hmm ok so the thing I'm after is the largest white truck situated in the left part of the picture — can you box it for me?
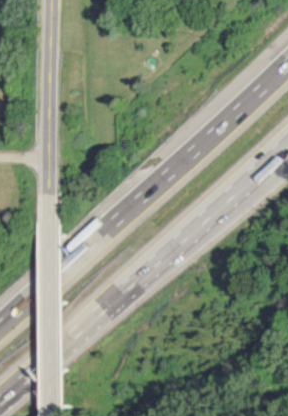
[64,222,102,257]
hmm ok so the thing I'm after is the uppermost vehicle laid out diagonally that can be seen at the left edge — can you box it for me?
[10,290,38,318]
